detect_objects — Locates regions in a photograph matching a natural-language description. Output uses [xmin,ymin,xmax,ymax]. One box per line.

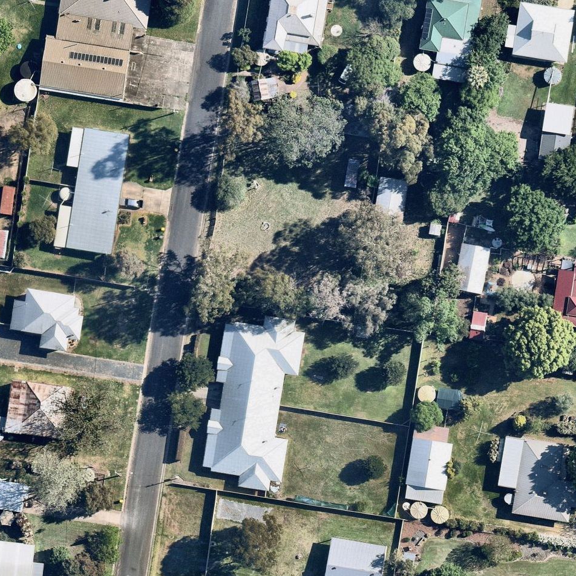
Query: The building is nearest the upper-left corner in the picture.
[40,0,151,101]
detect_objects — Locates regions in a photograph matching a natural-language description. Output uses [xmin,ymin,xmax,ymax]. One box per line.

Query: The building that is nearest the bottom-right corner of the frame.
[499,437,576,523]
